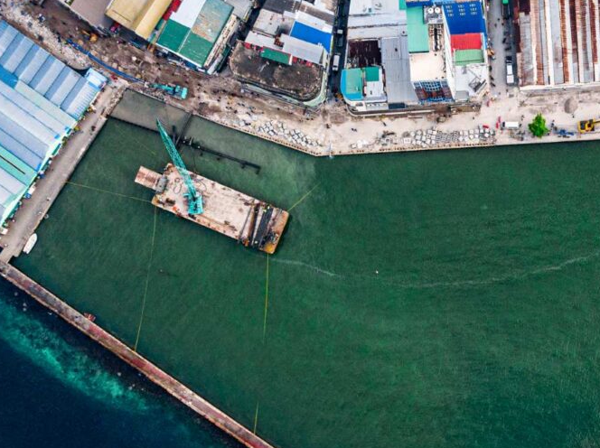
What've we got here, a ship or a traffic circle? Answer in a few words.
ship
